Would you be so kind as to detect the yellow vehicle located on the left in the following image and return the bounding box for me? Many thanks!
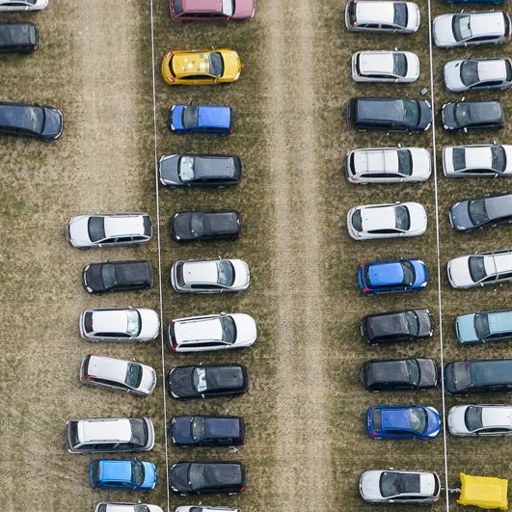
[162,48,241,85]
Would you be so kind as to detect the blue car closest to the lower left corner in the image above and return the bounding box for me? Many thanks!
[88,455,157,491]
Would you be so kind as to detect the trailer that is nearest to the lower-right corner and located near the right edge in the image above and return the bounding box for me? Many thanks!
[443,475,509,512]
